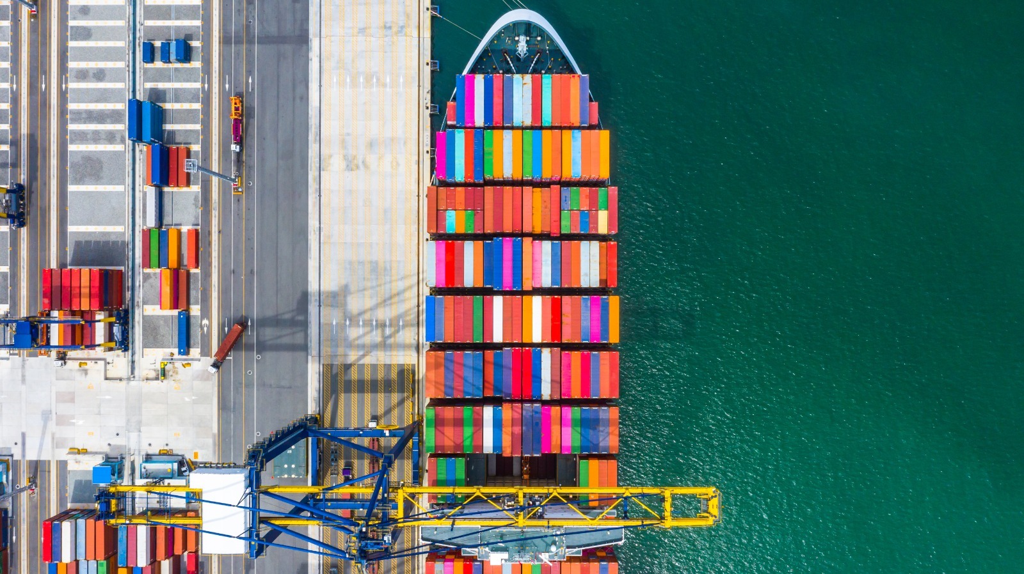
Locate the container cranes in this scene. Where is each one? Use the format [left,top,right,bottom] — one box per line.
[95,402,726,570]
[0,308,128,353]
[0,181,24,225]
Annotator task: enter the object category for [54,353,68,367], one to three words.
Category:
vehicle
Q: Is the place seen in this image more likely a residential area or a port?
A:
port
